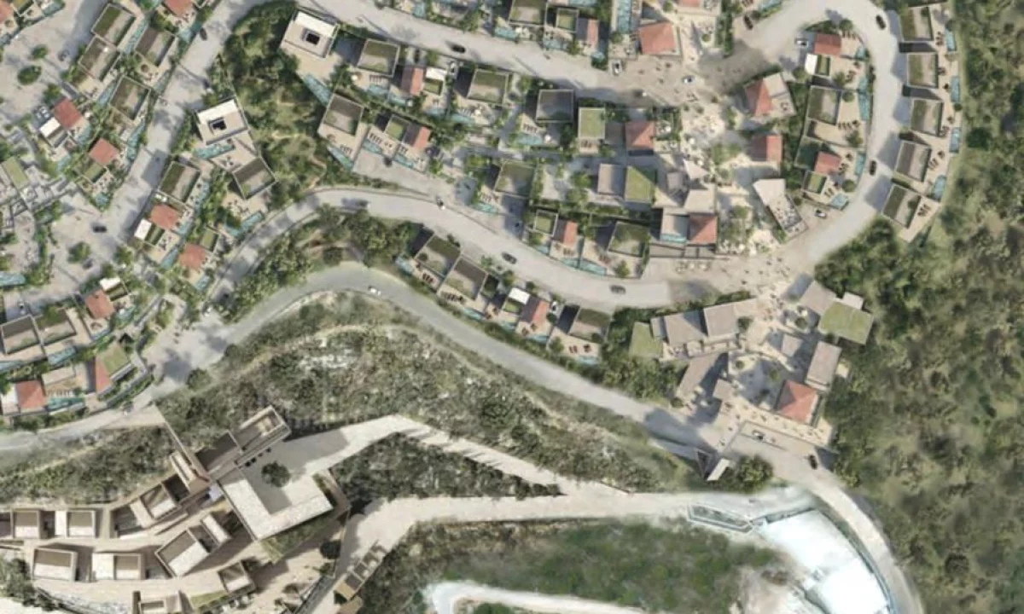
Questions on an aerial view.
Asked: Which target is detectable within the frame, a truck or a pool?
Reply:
pool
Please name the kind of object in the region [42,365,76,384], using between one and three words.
building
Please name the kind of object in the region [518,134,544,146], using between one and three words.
swimming pool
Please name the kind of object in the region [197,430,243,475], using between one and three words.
house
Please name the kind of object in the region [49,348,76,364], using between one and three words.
swimming pool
